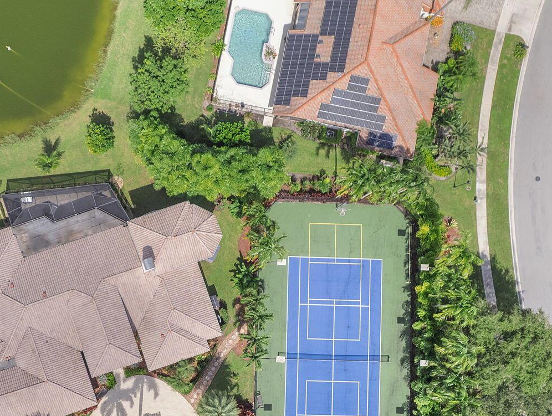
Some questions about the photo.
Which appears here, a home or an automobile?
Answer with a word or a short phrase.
home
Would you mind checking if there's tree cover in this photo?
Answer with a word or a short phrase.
Yes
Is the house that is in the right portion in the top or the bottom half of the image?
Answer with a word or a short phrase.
top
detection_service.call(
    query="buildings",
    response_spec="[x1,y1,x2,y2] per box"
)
[0,200,223,416]
[273,0,444,160]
